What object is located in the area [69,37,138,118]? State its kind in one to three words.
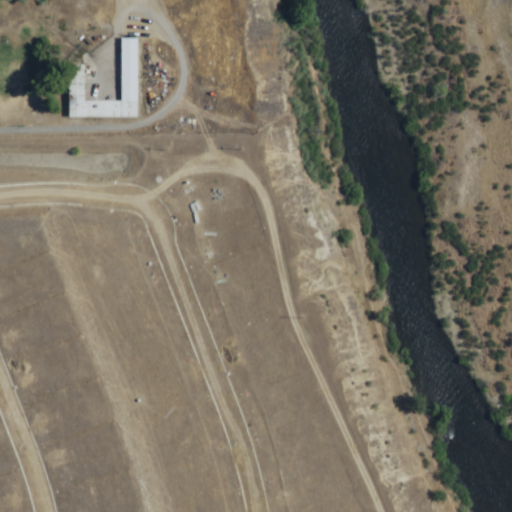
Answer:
barn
